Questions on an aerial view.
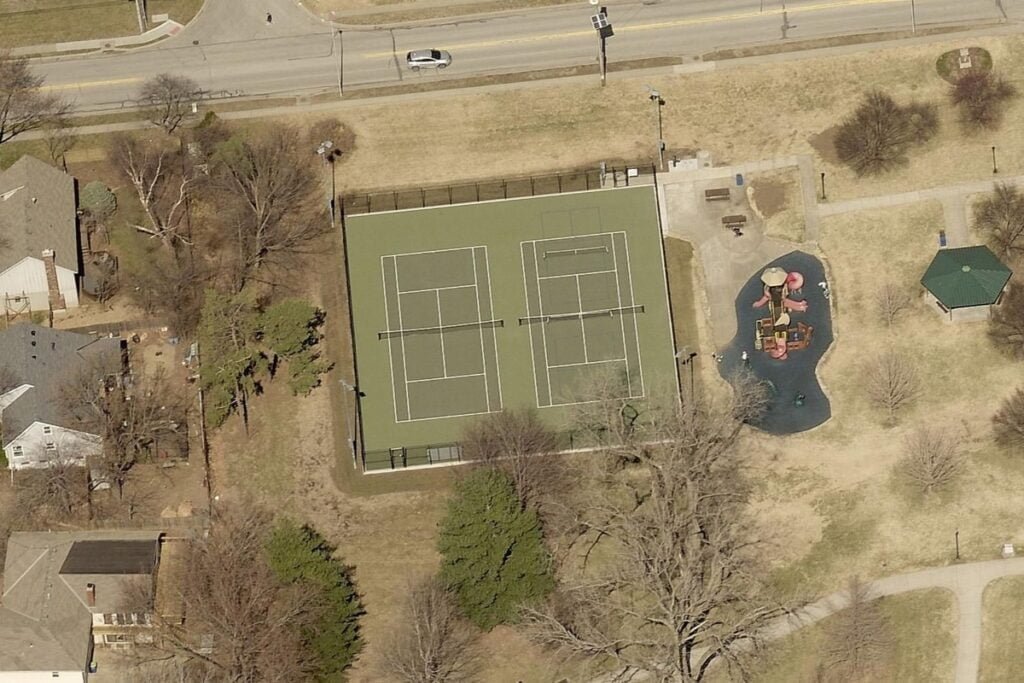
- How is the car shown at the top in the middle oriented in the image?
from side to side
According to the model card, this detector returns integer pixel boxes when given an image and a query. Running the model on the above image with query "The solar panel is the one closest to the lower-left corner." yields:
[62,541,159,572]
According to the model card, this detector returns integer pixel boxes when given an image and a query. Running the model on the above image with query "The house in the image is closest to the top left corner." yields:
[0,155,77,310]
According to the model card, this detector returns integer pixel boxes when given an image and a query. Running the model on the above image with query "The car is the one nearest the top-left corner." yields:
[407,49,451,72]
